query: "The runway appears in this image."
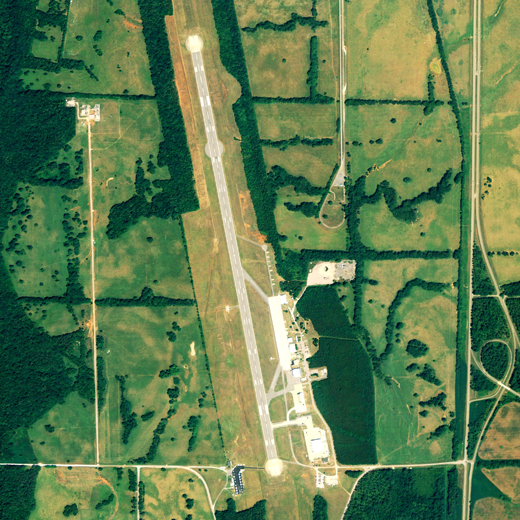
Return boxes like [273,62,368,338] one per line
[192,50,278,462]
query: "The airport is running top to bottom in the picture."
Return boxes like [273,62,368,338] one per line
[186,36,330,476]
